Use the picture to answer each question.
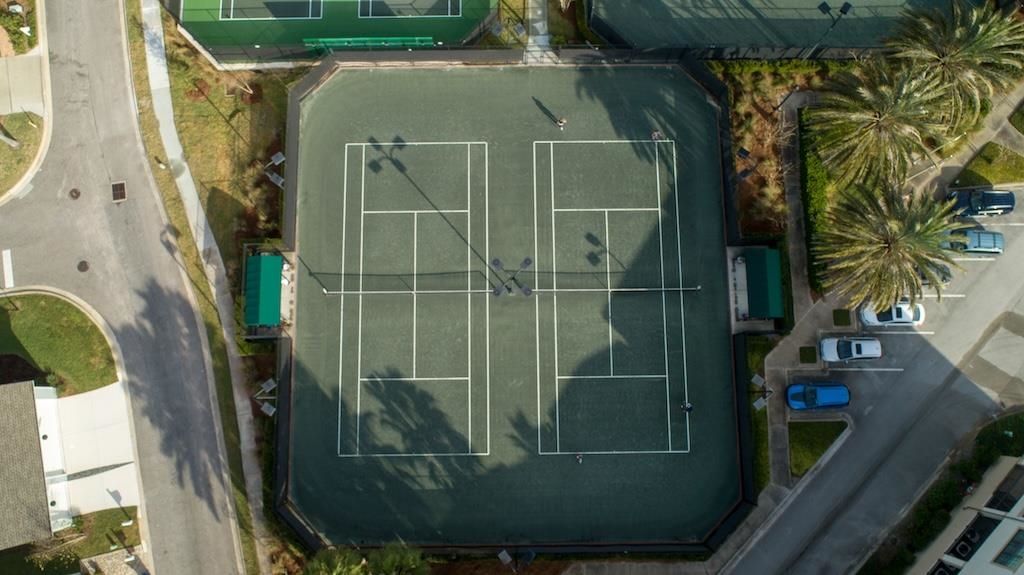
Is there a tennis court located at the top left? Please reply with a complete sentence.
Yes, at the top left there is a tennis court.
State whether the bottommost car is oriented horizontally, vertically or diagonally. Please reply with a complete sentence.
In this picture, the bottommost car lies horizontally.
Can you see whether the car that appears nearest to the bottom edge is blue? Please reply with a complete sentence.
Yes, the car that appears nearest to the bottom edge appears blue.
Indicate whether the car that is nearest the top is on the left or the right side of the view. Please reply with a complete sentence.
The car that is nearest the top sits on the right side.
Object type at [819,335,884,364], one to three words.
car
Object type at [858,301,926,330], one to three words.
car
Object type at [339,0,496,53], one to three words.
tennis court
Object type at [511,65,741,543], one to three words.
tennis court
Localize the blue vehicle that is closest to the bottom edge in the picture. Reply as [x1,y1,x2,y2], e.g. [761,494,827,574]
[786,381,853,411]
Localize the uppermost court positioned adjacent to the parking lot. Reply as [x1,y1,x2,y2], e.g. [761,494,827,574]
[591,0,1000,48]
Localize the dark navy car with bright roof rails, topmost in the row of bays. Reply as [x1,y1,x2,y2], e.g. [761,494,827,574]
[946,188,1018,218]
